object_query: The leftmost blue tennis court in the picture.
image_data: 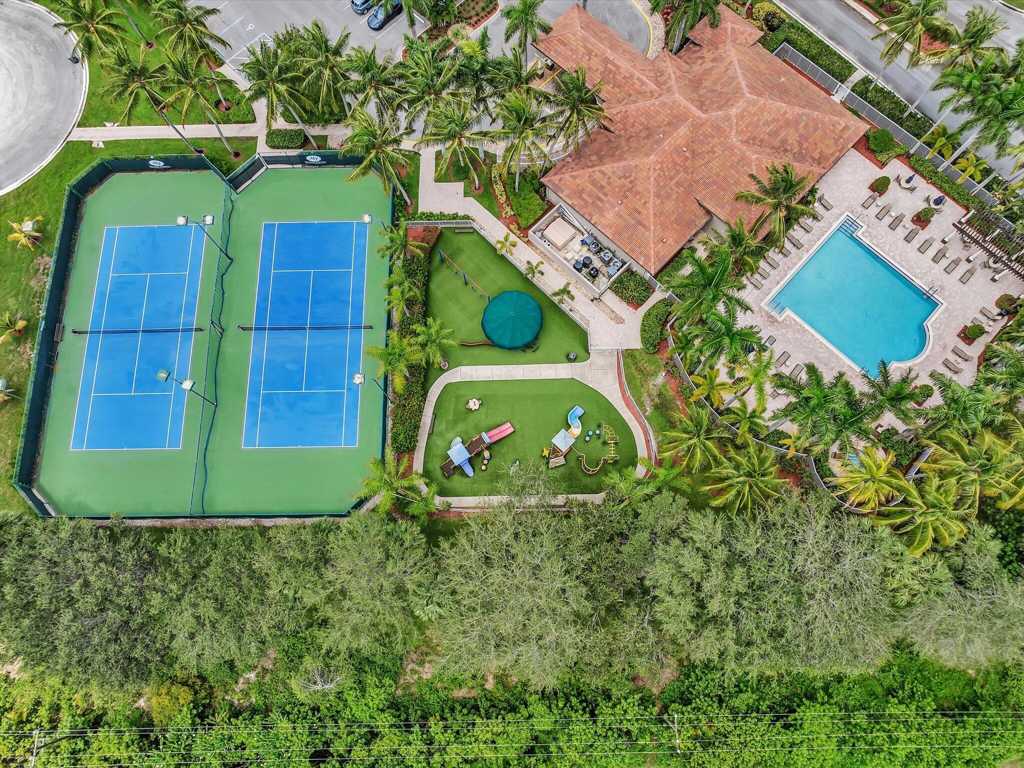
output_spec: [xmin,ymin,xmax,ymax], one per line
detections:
[69,224,207,451]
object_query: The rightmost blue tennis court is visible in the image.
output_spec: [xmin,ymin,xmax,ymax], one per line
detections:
[240,220,372,449]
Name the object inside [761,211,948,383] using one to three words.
swimming pool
